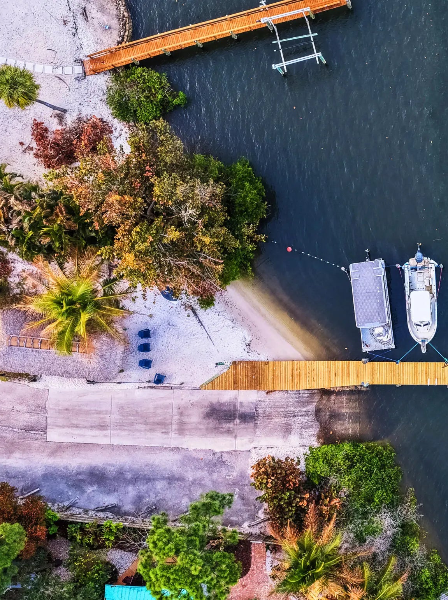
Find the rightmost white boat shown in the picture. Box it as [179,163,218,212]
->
[401,238,440,354]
